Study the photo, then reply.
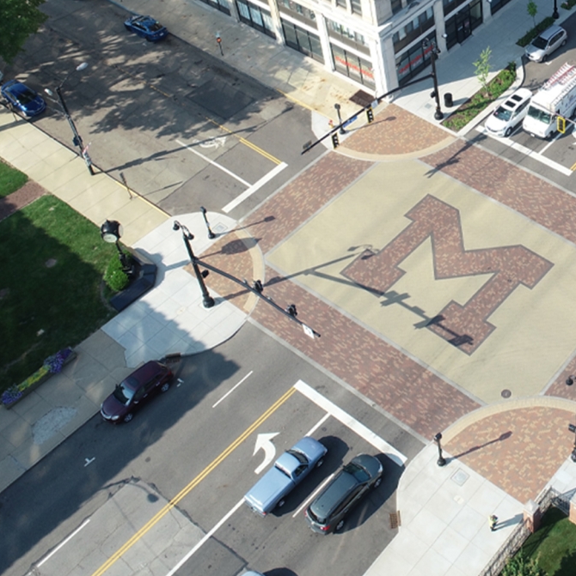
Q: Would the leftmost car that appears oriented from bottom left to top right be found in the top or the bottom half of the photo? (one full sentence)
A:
It is in the bottom half that the leftmost car that appears oriented from bottom left to top right appears.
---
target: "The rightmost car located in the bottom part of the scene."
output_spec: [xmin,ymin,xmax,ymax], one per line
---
[299,456,386,540]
